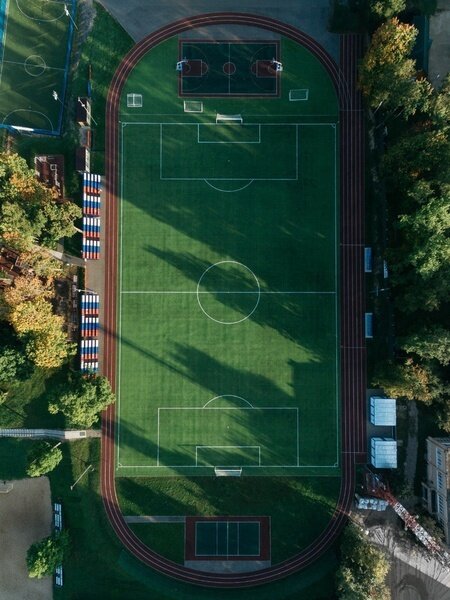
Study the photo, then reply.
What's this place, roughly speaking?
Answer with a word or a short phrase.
sports ground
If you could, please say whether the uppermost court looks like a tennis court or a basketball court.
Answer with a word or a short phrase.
basketball court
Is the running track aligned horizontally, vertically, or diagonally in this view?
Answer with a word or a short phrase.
vertically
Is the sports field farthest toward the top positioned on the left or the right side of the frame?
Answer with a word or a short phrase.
left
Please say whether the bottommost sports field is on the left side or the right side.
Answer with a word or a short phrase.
left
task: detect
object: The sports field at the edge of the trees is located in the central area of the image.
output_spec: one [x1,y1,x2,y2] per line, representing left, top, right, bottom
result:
[114,34,342,476]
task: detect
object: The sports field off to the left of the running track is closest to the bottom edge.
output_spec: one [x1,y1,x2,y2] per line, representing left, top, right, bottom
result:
[0,475,53,600]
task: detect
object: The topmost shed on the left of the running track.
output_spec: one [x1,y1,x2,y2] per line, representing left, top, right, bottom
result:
[75,94,91,127]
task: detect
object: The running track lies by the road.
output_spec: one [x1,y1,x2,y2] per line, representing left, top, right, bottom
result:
[101,12,366,587]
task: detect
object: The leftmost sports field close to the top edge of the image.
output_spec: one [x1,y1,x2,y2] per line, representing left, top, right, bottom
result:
[0,0,79,134]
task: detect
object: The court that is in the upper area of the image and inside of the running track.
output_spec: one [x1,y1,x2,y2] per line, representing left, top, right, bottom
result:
[179,40,279,97]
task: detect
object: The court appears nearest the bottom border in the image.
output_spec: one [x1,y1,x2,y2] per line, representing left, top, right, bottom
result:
[185,516,271,561]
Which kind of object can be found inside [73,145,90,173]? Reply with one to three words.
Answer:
shed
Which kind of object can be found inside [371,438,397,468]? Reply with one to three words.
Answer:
shed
